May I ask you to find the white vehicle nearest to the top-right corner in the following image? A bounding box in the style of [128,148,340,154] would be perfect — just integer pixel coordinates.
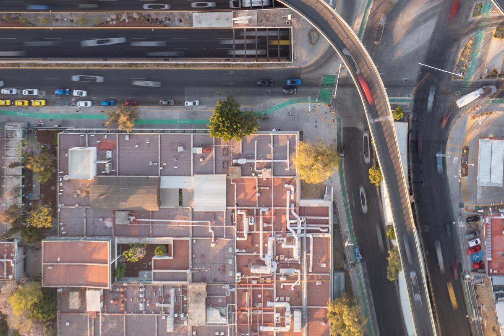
[453,86,487,111]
